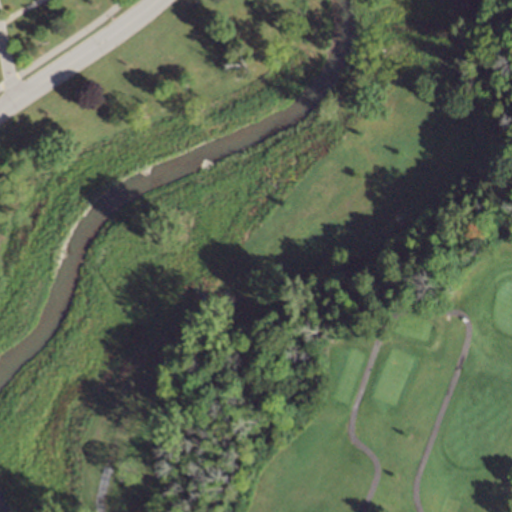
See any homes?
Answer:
No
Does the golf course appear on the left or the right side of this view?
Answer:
right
